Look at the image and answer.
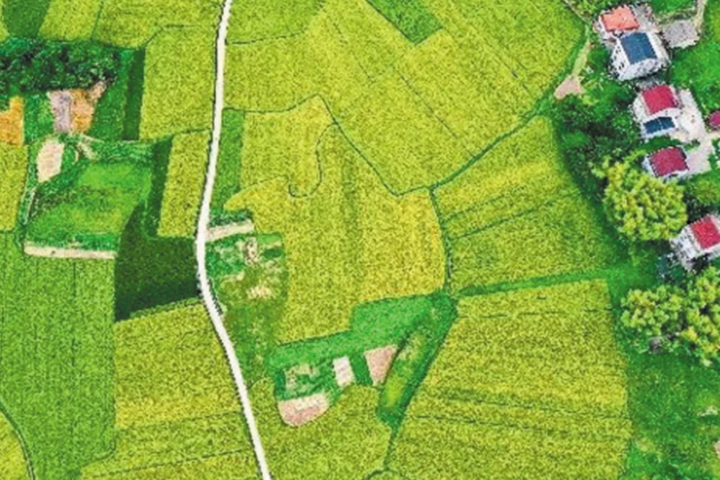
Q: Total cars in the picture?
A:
zero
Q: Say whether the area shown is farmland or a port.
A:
farmland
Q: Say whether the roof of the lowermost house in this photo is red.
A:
Yes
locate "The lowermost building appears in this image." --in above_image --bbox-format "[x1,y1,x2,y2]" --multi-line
[684,216,720,262]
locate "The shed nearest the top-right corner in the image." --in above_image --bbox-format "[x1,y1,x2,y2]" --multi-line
[666,18,702,44]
